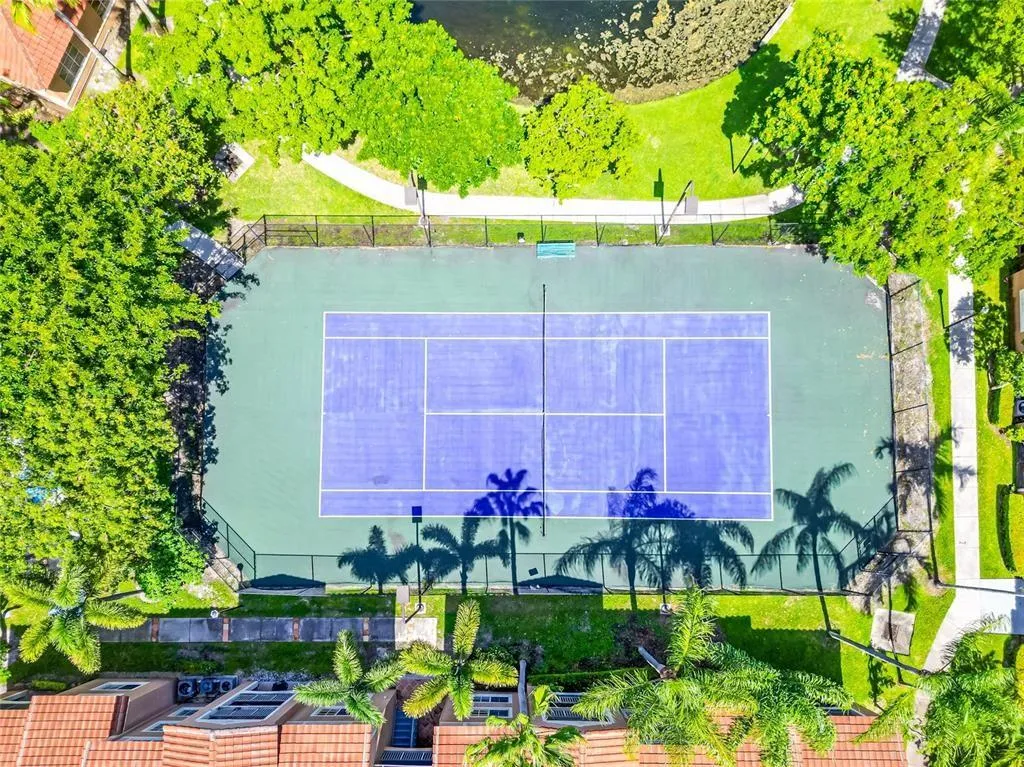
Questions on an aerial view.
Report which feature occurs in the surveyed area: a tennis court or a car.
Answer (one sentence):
Visible in the photo is a tennis court.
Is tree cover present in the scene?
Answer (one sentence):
Yes, some tree cover is visible.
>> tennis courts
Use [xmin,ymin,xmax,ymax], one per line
[203,247,898,591]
